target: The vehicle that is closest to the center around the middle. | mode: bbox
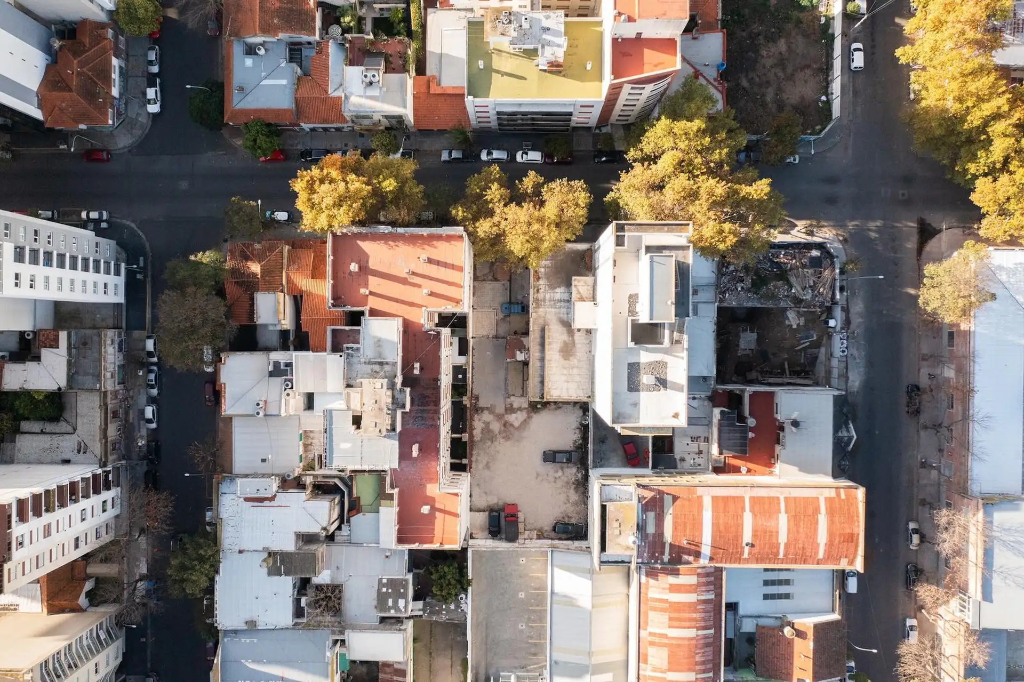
[501,302,527,314]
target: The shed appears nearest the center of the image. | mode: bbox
[506,337,528,360]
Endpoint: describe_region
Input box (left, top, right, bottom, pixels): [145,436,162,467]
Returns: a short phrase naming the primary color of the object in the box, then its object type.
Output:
black car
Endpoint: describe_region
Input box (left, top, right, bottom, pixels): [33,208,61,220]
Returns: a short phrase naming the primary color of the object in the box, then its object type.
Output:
gray vehicle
